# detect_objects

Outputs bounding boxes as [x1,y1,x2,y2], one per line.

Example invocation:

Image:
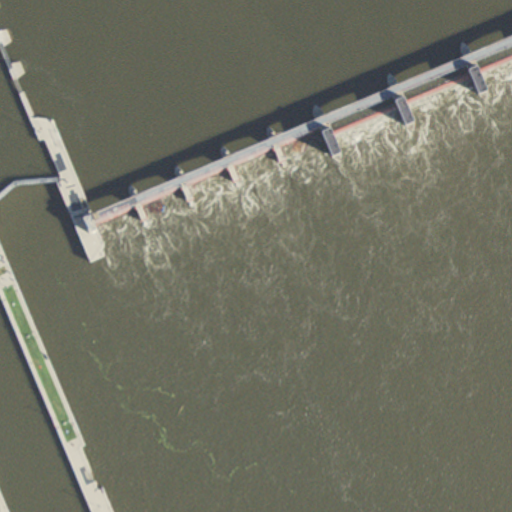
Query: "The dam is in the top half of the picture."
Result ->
[96,42,512,228]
